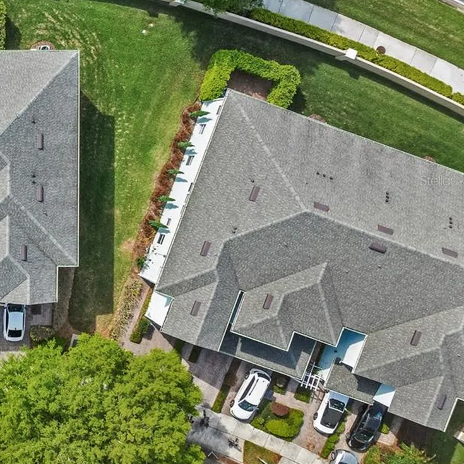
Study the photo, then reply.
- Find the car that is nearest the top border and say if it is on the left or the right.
left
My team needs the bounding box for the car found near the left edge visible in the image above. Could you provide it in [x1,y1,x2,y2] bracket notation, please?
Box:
[1,307,26,341]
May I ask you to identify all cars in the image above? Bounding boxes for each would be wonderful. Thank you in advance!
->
[1,307,26,341]
[343,395,388,453]
[310,388,352,438]
[224,363,272,425]
[324,444,356,464]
